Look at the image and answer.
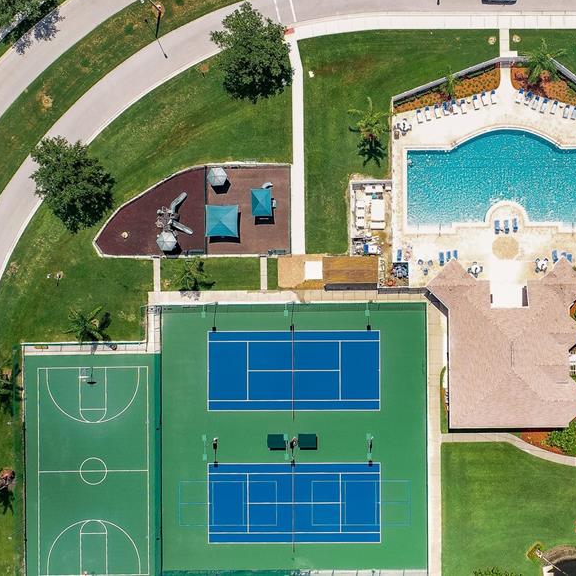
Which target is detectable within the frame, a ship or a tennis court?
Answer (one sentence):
The one in the frame is a tennis court.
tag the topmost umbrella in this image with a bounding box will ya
[207,168,227,185]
